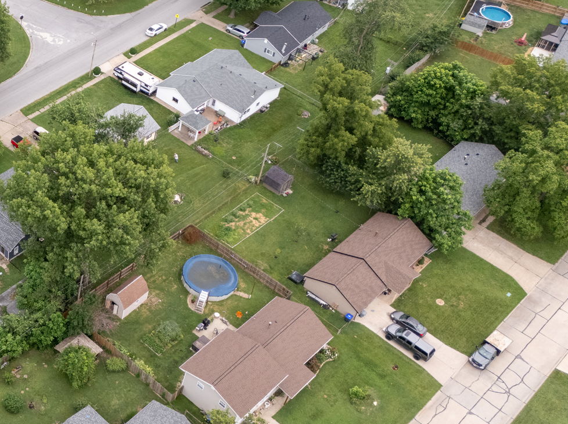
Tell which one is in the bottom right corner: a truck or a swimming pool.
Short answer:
truck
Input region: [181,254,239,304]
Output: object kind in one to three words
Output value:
swimming pool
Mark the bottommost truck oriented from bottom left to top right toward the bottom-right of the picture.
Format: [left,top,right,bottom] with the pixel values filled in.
[468,328,520,369]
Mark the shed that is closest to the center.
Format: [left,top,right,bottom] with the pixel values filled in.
[261,168,294,199]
